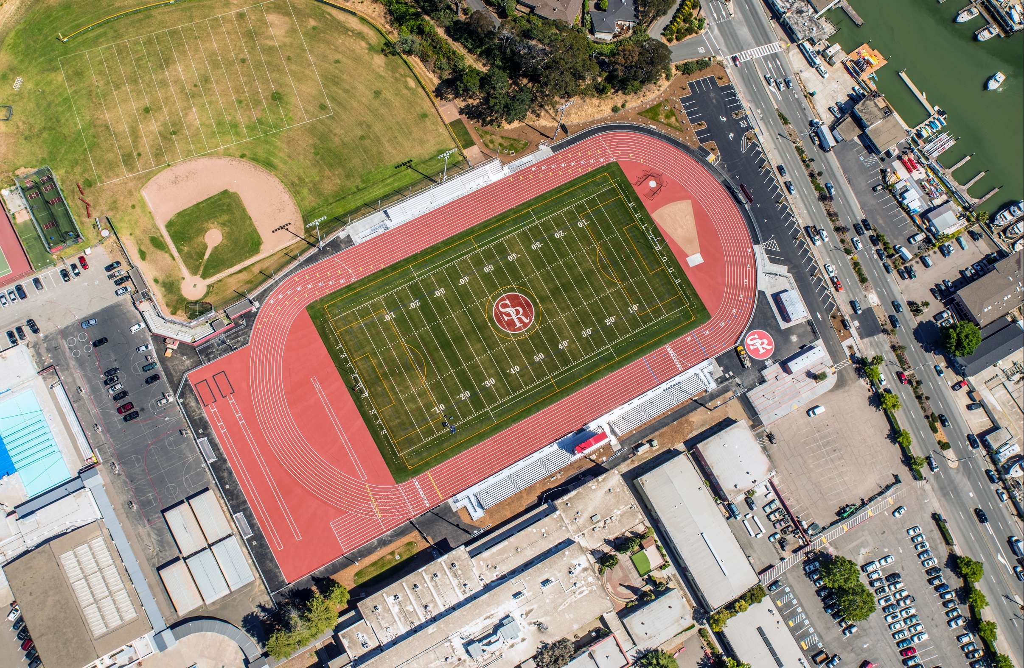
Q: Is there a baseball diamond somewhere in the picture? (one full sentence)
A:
Yes, the picture does show a baseball diamond.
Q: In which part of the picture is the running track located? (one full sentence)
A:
The running track is located in the center region of the scene.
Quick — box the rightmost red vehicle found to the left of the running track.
[115,402,136,414]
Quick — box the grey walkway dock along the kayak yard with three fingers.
[929,156,980,206]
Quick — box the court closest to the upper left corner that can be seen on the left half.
[0,203,34,288]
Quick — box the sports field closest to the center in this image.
[305,160,713,487]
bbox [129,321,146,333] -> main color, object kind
white vehicle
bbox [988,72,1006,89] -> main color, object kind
white boat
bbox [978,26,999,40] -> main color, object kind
white boat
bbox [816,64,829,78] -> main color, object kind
white vehicle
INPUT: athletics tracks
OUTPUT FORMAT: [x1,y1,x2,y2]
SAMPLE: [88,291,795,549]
[187,136,754,586]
